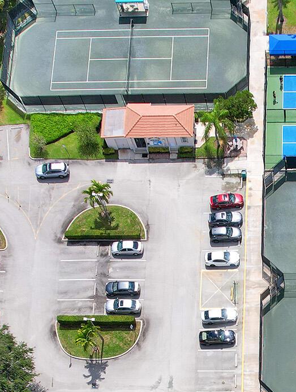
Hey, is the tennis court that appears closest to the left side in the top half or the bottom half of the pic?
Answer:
top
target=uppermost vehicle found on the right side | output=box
[210,194,243,211]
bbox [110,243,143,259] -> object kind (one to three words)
car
